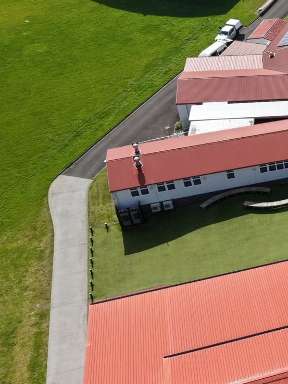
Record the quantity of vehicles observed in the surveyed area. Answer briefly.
two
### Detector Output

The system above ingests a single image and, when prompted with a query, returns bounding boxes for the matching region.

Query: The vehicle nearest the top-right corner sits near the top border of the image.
[215,13,242,43]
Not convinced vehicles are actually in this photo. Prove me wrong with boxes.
[215,13,242,43]
[196,35,229,57]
